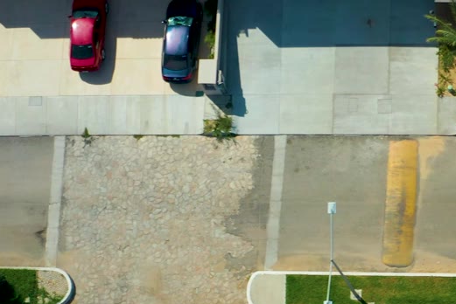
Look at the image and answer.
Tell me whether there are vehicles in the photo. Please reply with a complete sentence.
Yes, there's a vehicle down there.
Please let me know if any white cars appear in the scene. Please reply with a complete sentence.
No, there is no white car in the image.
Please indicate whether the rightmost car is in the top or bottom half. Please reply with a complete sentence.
The top half of the photo is where the rightmost car is.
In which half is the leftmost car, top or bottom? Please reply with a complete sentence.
It is in the top half that the leftmost car appears.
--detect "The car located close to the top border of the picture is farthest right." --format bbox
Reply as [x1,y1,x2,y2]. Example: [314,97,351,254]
[159,0,202,85]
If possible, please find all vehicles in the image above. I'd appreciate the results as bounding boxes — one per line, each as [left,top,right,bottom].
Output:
[68,0,112,73]
[159,0,202,85]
